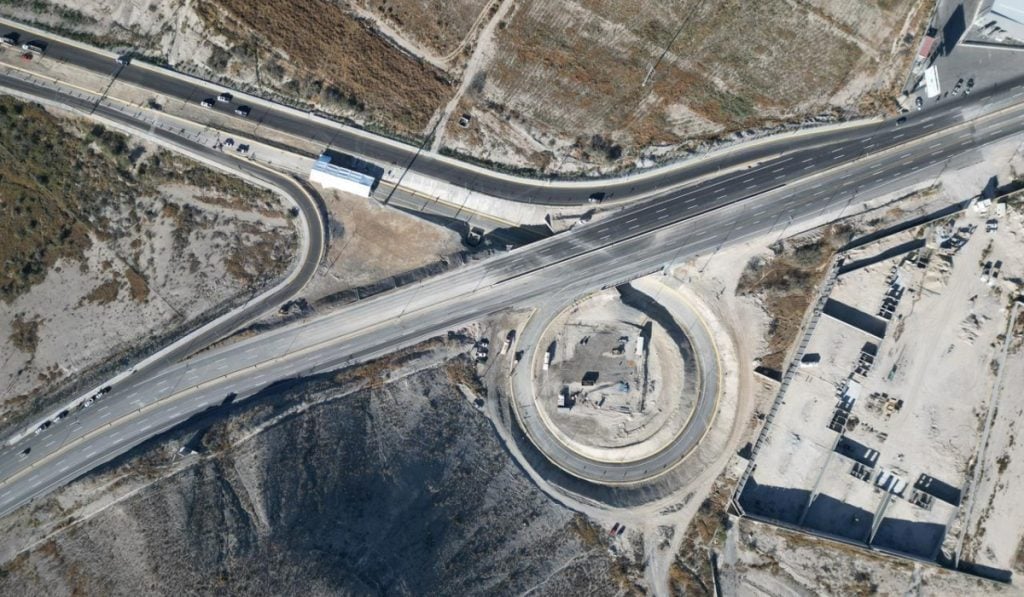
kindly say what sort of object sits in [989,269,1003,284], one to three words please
vehicle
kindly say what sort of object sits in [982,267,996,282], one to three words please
vehicle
